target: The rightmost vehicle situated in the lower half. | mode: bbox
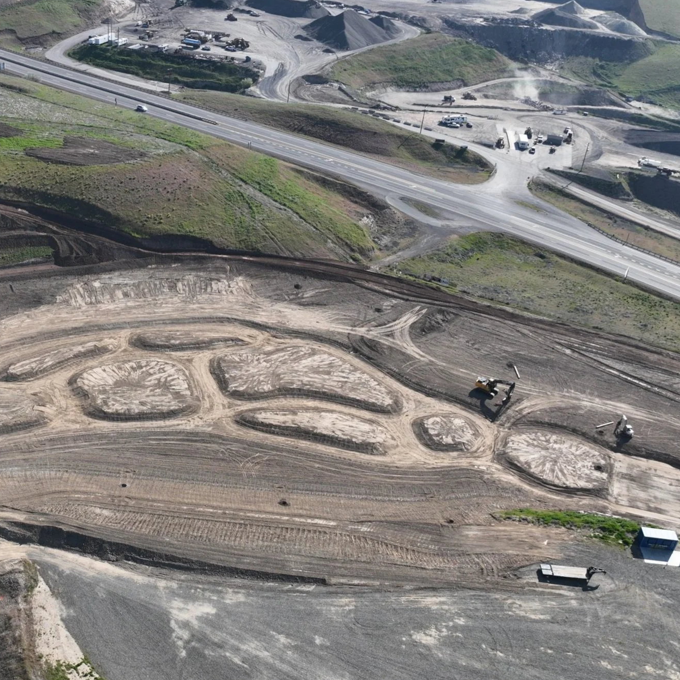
[612,416,641,442]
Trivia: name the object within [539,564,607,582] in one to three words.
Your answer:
trailer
